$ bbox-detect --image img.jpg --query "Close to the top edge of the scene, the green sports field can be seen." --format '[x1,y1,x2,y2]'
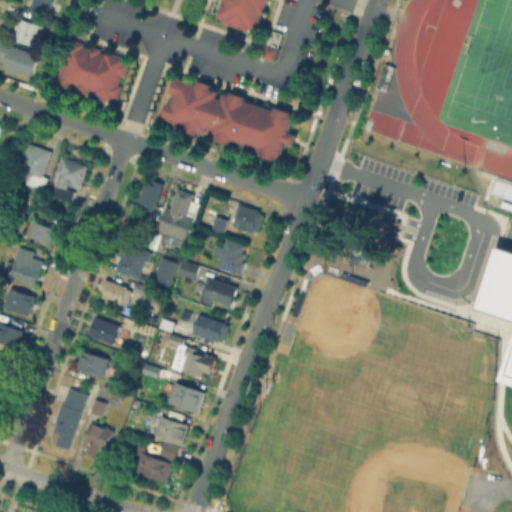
[440,0,512,146]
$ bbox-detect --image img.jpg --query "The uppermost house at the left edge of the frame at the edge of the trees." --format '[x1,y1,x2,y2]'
[16,20,44,47]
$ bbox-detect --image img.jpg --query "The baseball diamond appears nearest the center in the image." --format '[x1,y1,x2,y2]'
[296,274,388,358]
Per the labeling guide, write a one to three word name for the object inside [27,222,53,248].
house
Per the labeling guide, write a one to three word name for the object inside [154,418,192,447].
house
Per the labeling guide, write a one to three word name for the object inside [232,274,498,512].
baseball field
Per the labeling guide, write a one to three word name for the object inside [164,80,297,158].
building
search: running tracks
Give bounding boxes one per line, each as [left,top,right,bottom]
[370,0,512,182]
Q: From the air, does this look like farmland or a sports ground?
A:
sports ground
